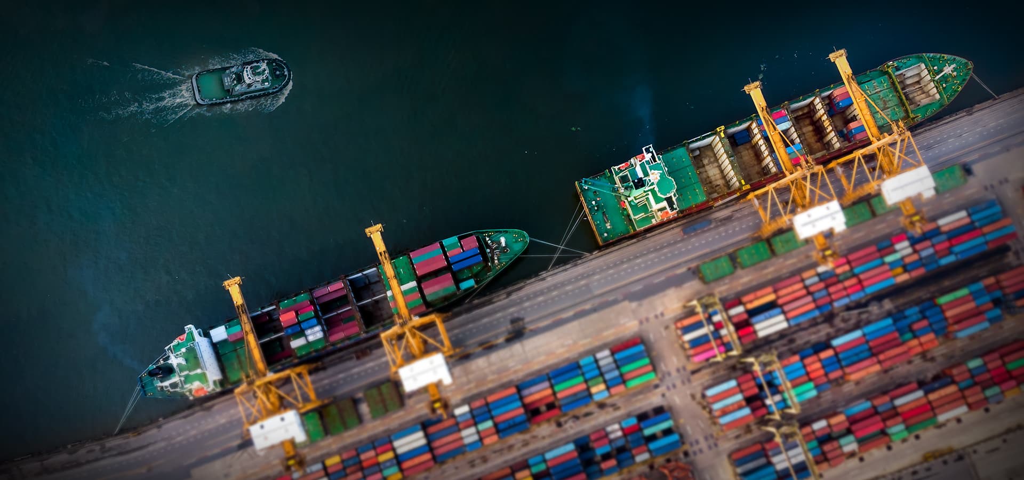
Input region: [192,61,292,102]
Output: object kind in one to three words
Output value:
boat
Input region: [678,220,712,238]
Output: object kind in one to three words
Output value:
vehicle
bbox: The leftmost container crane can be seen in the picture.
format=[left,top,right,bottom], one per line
[226,276,334,467]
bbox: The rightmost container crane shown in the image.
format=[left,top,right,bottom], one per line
[824,47,941,232]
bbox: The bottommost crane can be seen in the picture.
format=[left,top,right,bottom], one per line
[757,412,822,480]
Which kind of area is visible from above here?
port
